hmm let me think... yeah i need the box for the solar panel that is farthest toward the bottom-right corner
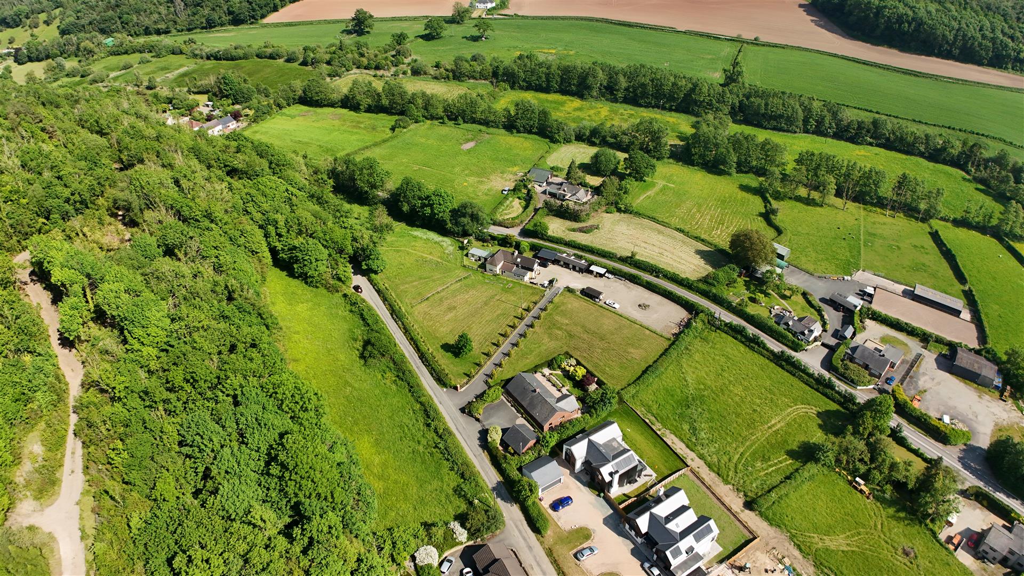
[693,523,713,544]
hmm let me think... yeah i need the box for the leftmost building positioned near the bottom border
[473,539,531,576]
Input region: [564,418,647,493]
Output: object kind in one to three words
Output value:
house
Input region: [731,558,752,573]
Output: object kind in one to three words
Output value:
work vehicle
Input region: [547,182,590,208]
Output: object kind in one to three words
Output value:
house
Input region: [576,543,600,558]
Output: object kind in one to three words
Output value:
car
